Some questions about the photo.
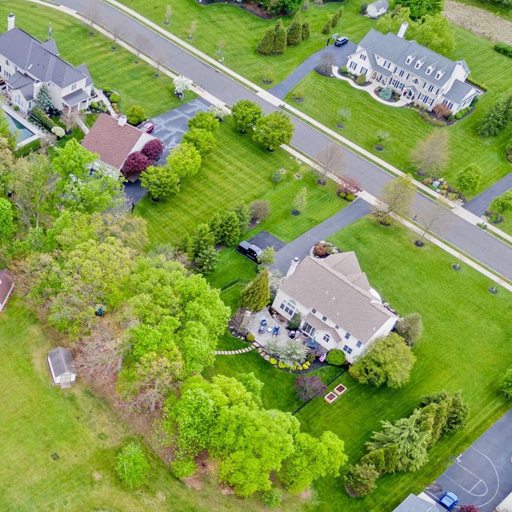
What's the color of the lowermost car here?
blue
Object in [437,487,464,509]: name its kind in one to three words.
car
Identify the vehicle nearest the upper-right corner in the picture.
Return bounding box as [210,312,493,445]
[334,33,351,47]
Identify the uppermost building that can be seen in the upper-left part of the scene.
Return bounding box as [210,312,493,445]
[0,9,103,118]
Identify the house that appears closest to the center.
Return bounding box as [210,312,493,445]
[272,251,403,363]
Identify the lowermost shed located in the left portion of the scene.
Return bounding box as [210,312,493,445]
[45,346,76,389]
